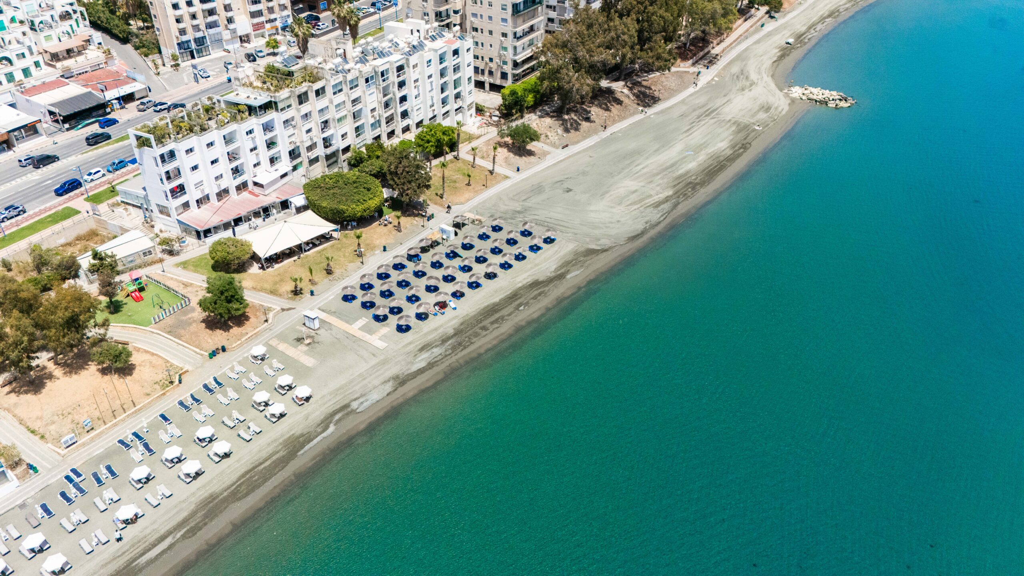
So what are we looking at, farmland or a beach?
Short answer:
beach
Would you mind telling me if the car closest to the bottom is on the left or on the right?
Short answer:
left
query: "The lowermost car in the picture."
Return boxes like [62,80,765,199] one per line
[0,201,32,221]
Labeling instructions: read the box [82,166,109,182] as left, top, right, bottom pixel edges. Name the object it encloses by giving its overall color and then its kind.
white car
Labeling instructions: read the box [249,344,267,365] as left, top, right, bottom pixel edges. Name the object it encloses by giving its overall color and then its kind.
white umbrella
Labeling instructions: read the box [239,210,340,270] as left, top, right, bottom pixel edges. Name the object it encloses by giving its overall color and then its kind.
white tent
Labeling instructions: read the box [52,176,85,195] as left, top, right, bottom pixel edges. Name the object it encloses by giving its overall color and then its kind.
blue car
